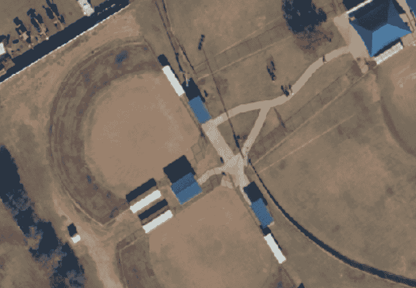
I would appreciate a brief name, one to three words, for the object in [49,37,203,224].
baseball field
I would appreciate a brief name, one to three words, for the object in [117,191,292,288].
baseball field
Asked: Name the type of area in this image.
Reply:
sports ground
